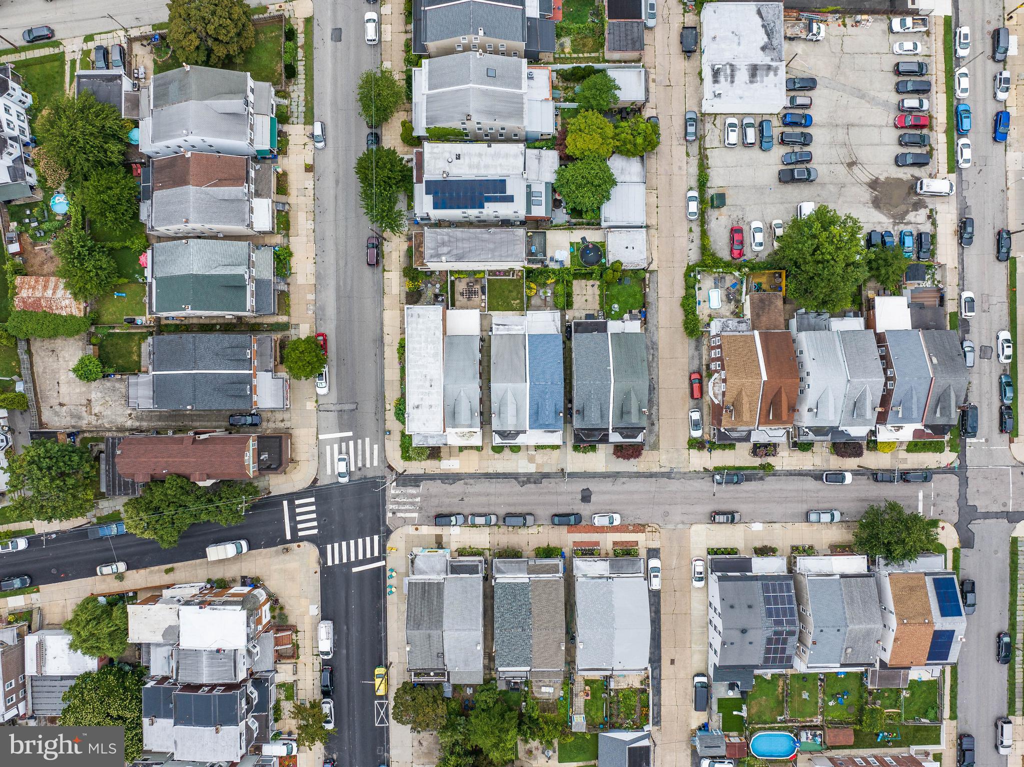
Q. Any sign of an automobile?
Yes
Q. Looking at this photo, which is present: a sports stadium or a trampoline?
trampoline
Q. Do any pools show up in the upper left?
Yes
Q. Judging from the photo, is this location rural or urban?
urban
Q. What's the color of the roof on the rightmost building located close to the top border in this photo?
white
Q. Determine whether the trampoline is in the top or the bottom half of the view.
top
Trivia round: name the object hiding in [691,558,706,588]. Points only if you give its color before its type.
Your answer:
white car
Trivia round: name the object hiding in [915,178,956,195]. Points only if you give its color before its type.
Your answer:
white vehicle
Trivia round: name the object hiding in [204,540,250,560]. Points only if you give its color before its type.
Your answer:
white vehicle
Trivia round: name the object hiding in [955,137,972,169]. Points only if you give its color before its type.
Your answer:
white car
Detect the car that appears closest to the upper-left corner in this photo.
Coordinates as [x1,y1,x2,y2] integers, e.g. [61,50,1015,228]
[22,25,55,43]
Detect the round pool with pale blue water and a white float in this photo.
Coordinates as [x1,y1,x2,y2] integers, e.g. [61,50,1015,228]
[50,194,71,215]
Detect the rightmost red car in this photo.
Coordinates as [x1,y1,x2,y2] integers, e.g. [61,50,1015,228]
[894,112,931,130]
